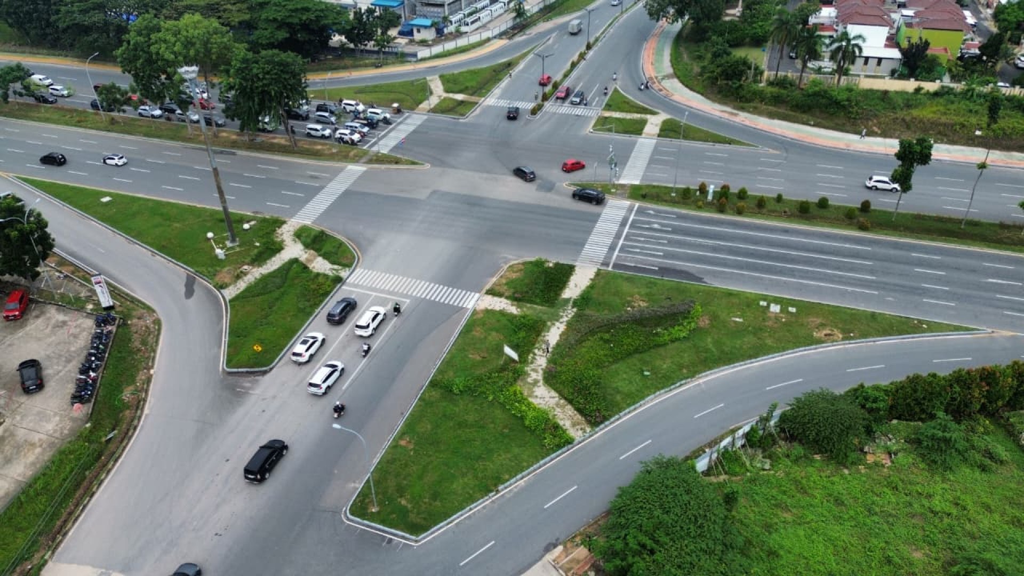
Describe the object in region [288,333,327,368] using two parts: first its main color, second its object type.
white car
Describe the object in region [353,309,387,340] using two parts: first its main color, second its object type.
white car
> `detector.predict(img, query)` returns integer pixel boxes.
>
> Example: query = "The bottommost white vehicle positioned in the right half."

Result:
[863,176,900,193]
